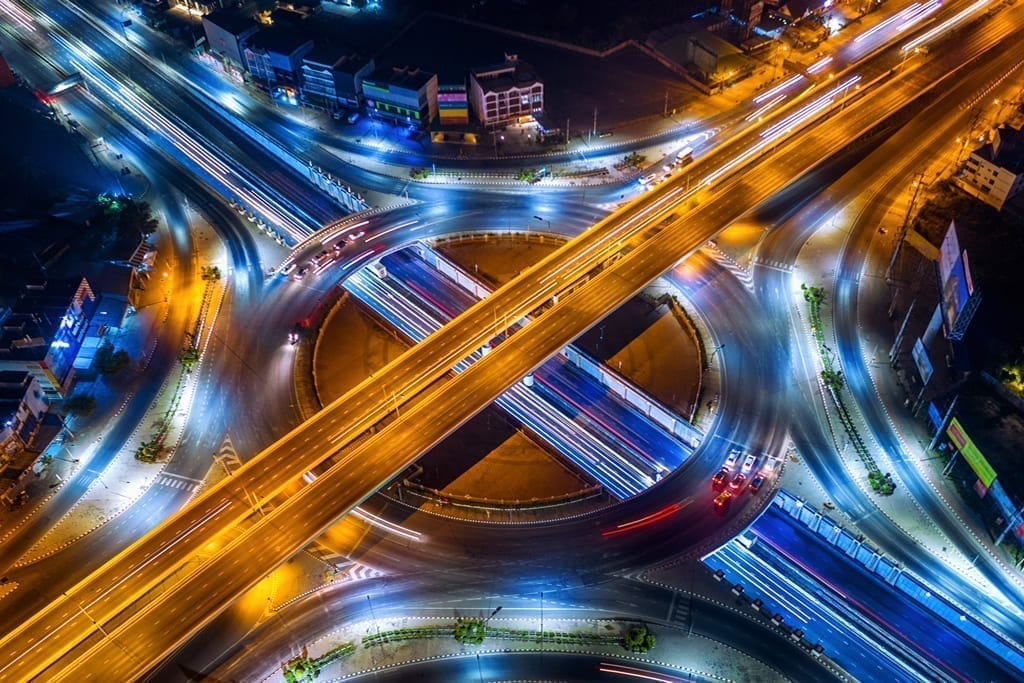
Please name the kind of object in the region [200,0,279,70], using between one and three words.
building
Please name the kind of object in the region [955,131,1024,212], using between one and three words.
building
